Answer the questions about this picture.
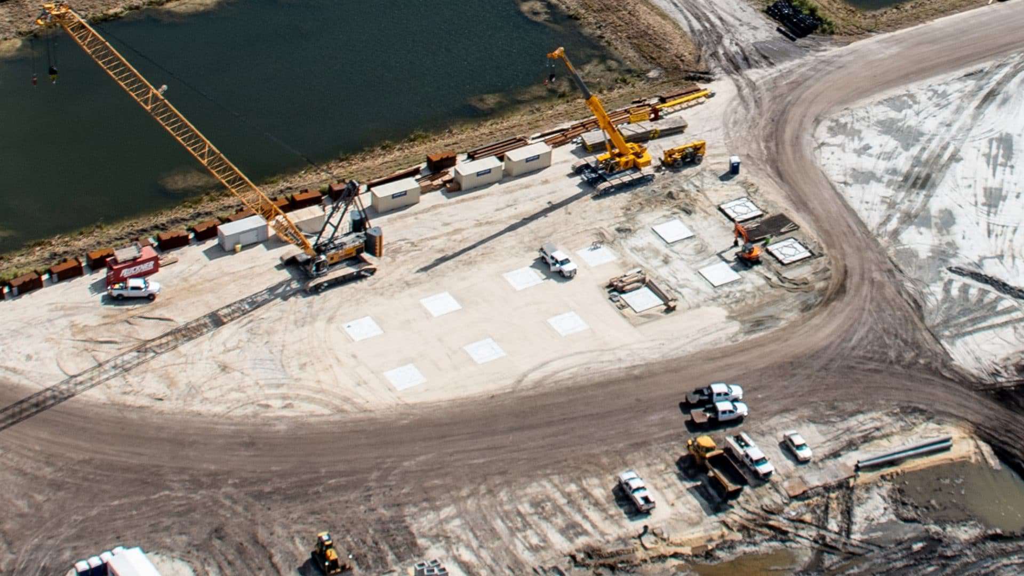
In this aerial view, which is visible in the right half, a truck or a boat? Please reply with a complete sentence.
It is a truck that can be seen in the right half.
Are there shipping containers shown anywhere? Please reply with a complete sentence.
Yes, a shipping container appears in the view.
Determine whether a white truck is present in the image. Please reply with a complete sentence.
Yes, a white truck appears in the view.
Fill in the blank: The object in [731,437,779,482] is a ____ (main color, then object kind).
white truck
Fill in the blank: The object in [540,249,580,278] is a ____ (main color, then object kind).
white truck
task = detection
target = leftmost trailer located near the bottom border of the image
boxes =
[112,547,159,576]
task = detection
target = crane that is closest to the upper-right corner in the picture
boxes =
[550,47,656,194]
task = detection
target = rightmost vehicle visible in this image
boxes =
[782,432,813,464]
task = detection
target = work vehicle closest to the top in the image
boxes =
[654,137,708,169]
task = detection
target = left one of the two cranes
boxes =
[39,5,386,294]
